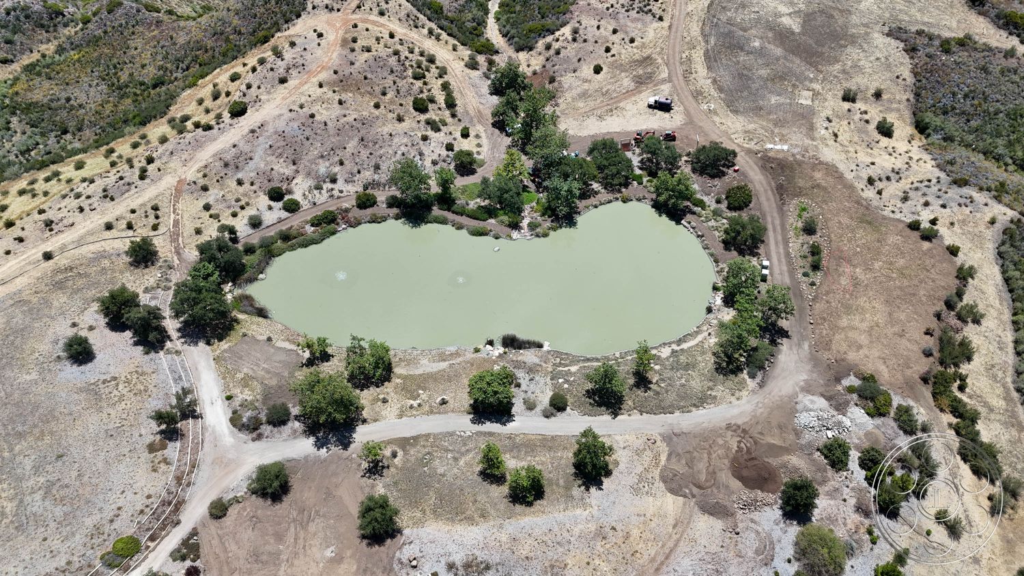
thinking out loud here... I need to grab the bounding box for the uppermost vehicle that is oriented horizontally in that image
[645,95,675,110]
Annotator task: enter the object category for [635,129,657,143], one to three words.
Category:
work vehicle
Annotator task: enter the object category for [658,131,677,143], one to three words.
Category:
vehicle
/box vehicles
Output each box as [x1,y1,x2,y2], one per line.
[658,131,677,143]
[645,95,675,110]
[635,129,657,143]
